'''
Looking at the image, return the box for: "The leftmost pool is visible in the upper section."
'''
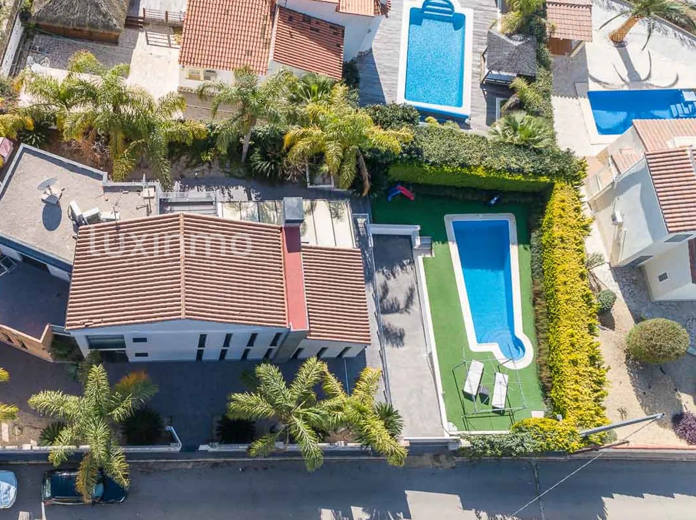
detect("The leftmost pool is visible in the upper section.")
[400,0,471,113]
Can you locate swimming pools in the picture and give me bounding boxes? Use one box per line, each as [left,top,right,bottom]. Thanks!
[446,215,532,368]
[579,83,696,141]
[400,0,471,113]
